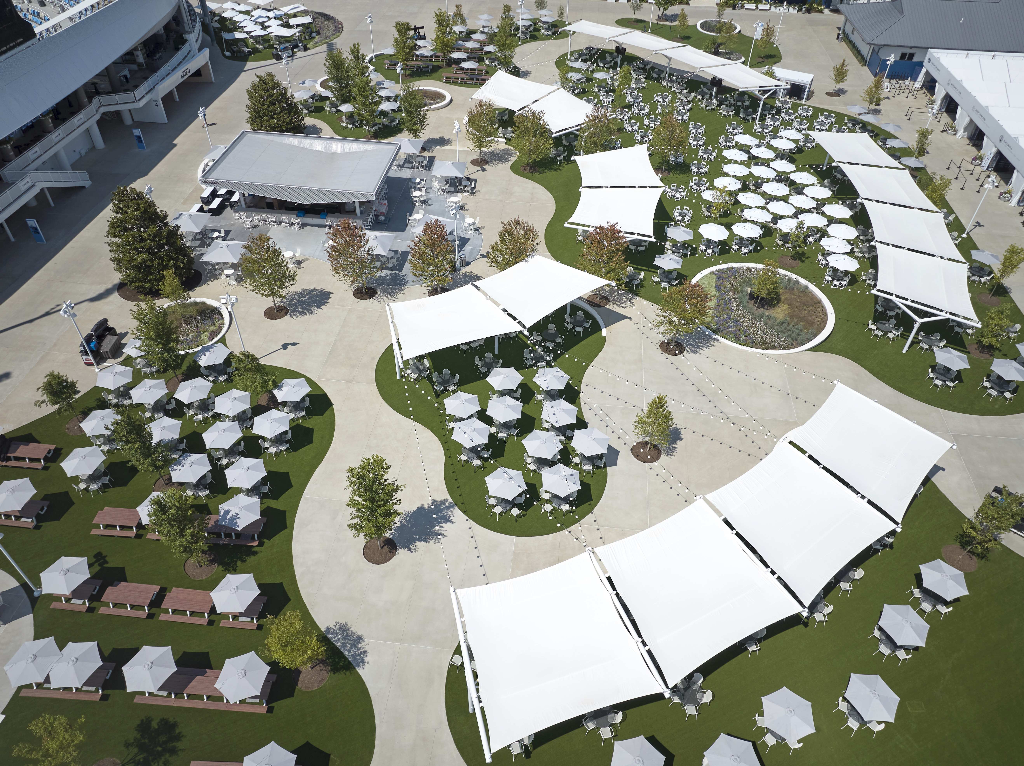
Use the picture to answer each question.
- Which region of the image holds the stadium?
top left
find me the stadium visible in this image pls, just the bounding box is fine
[0,0,214,242]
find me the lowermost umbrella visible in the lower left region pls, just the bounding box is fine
[249,739,302,766]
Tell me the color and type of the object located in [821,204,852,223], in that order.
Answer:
white umbrella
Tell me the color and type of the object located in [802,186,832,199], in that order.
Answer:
white umbrella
